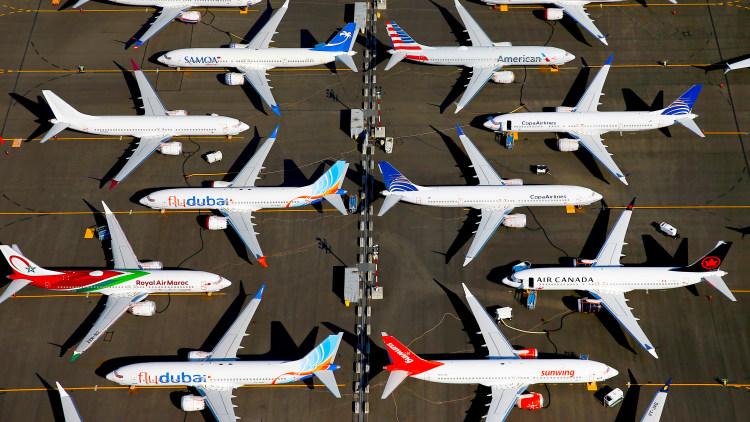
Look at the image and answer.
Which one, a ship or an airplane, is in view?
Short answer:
airplane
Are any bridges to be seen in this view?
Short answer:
No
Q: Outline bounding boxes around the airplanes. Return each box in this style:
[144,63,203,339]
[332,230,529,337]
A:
[485,0,627,47]
[382,282,620,422]
[378,123,604,267]
[107,284,344,422]
[75,0,261,49]
[385,0,576,113]
[157,0,360,114]
[483,54,704,185]
[41,59,248,188]
[0,201,230,360]
[724,56,750,73]
[502,197,735,358]
[646,381,675,422]
[139,124,349,267]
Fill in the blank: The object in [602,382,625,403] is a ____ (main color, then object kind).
white vehicle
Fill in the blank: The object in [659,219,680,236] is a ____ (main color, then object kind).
white vehicle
